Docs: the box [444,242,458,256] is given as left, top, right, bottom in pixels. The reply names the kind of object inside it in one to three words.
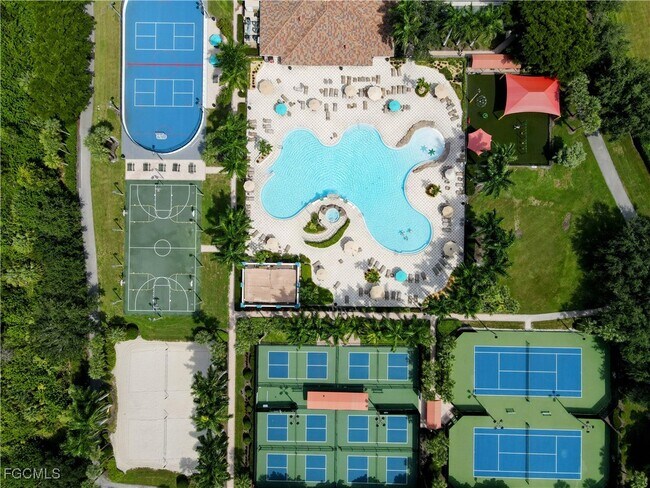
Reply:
umbrella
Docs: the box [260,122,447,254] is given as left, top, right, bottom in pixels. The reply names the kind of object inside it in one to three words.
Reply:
swimming pool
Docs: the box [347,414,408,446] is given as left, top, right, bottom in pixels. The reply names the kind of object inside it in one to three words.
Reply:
sports court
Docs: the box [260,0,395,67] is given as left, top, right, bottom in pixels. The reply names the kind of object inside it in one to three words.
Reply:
building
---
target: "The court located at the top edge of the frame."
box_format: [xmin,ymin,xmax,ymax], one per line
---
[118,0,206,154]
